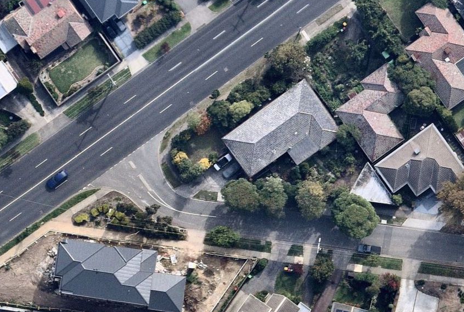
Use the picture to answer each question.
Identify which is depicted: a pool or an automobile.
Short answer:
automobile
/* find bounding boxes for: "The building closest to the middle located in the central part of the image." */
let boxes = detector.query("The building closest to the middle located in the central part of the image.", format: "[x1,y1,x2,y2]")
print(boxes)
[222,76,339,177]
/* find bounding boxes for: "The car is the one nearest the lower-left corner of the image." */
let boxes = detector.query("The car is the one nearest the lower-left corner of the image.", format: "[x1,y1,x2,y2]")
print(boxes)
[47,170,68,189]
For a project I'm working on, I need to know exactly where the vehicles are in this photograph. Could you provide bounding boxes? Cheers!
[213,152,235,171]
[47,170,68,189]
[358,245,382,254]
[103,21,119,38]
[113,14,130,36]
[221,160,242,179]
